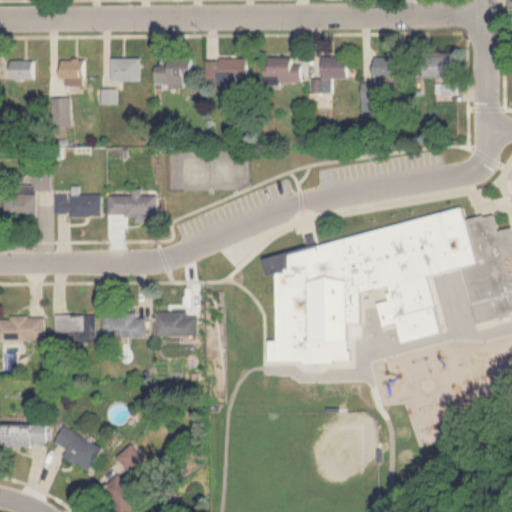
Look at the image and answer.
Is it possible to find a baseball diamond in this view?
Yes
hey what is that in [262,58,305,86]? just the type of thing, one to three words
house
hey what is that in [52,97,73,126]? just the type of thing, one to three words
building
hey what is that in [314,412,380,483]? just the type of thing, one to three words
baseball field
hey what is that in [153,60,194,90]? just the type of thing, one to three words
house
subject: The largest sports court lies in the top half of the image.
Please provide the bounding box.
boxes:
[170,150,250,191]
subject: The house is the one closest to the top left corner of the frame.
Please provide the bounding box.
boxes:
[6,60,36,82]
